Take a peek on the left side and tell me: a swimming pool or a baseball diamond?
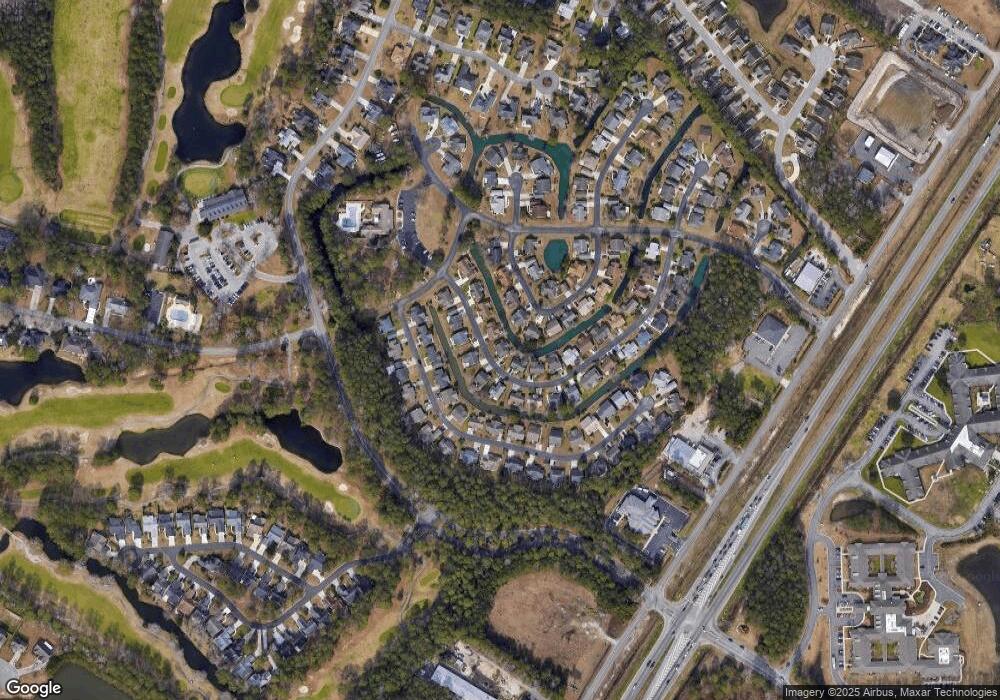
swimming pool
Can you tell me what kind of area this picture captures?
residential area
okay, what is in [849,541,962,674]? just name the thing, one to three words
house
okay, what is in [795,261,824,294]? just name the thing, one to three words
building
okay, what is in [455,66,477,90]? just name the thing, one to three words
house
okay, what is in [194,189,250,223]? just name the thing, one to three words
building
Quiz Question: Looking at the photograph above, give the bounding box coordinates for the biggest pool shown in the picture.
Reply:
[166,304,201,333]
